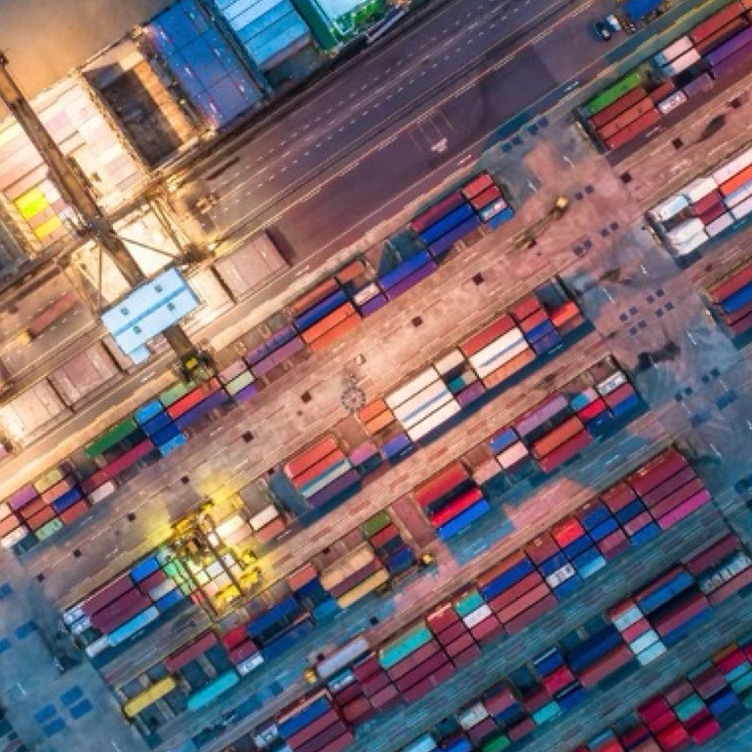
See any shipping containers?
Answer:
Yes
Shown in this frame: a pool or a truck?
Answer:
truck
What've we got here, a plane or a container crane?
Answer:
container crane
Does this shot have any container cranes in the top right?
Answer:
No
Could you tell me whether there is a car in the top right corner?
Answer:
Yes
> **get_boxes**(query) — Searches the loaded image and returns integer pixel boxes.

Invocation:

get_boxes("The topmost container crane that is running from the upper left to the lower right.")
[0,64,222,398]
